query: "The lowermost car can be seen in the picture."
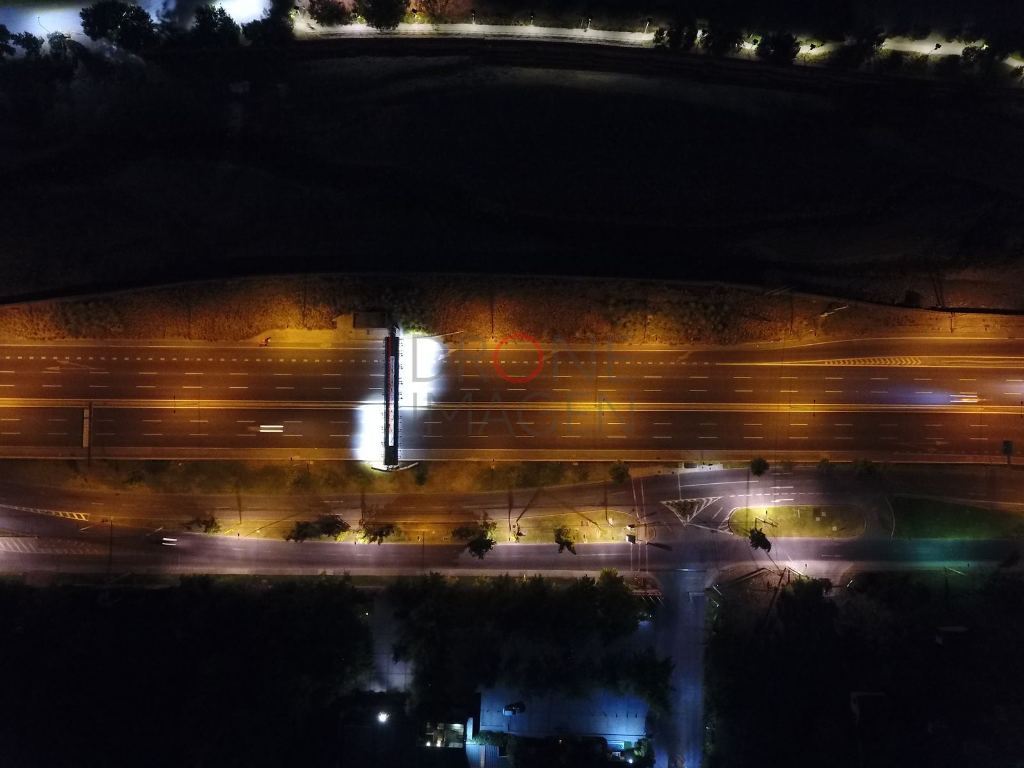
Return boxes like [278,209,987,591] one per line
[504,702,525,717]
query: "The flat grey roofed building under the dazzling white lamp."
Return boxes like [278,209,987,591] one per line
[340,705,424,768]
